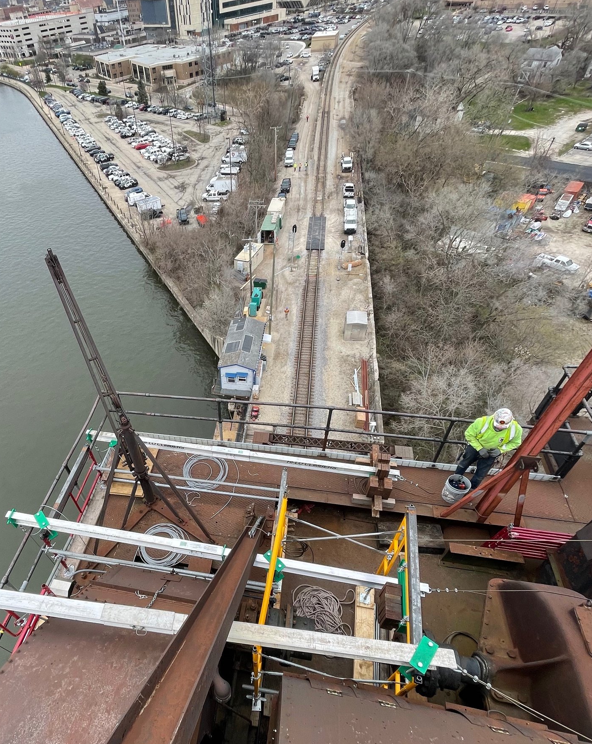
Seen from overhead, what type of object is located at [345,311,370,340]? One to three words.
shed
